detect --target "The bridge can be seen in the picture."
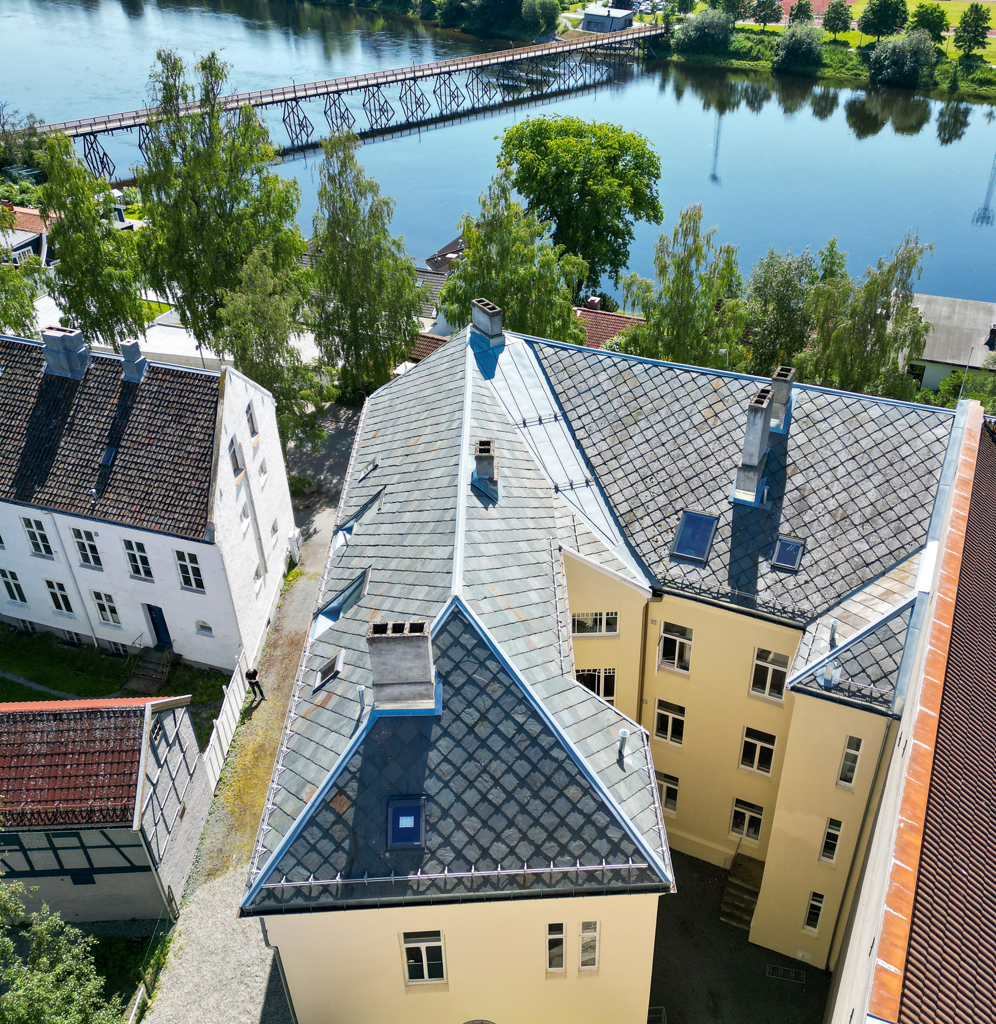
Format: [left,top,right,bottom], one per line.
[0,24,665,168]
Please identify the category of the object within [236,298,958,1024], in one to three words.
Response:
building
